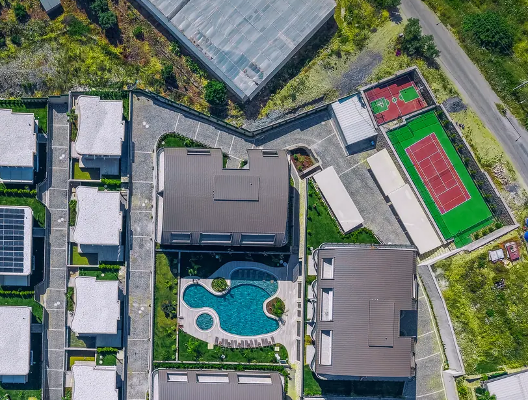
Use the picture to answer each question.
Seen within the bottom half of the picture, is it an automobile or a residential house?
residential house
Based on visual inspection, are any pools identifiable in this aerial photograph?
Yes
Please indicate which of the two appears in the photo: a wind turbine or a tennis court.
tennis court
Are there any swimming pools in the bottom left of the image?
Yes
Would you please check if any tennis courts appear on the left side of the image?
No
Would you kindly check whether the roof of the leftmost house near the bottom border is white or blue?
white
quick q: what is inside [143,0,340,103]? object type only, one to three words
greenhouse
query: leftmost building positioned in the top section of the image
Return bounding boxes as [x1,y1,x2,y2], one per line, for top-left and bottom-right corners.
[0,109,44,181]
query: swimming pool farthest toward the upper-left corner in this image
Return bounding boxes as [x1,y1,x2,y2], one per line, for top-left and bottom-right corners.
[70,157,101,181]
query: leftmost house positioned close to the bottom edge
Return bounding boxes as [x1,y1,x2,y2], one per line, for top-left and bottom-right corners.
[0,306,38,383]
